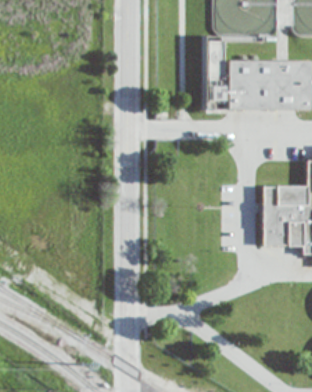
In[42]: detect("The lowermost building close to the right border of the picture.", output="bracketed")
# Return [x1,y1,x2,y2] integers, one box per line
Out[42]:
[262,160,312,267]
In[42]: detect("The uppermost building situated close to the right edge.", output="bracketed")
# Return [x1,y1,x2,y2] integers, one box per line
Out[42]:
[228,60,312,112]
